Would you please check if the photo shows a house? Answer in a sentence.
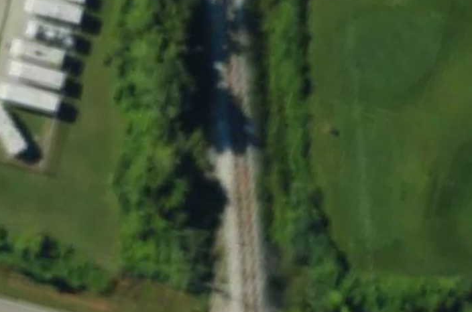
No, I find no house anywhere in the image.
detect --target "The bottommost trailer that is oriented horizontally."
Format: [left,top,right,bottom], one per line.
[0,84,62,113]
